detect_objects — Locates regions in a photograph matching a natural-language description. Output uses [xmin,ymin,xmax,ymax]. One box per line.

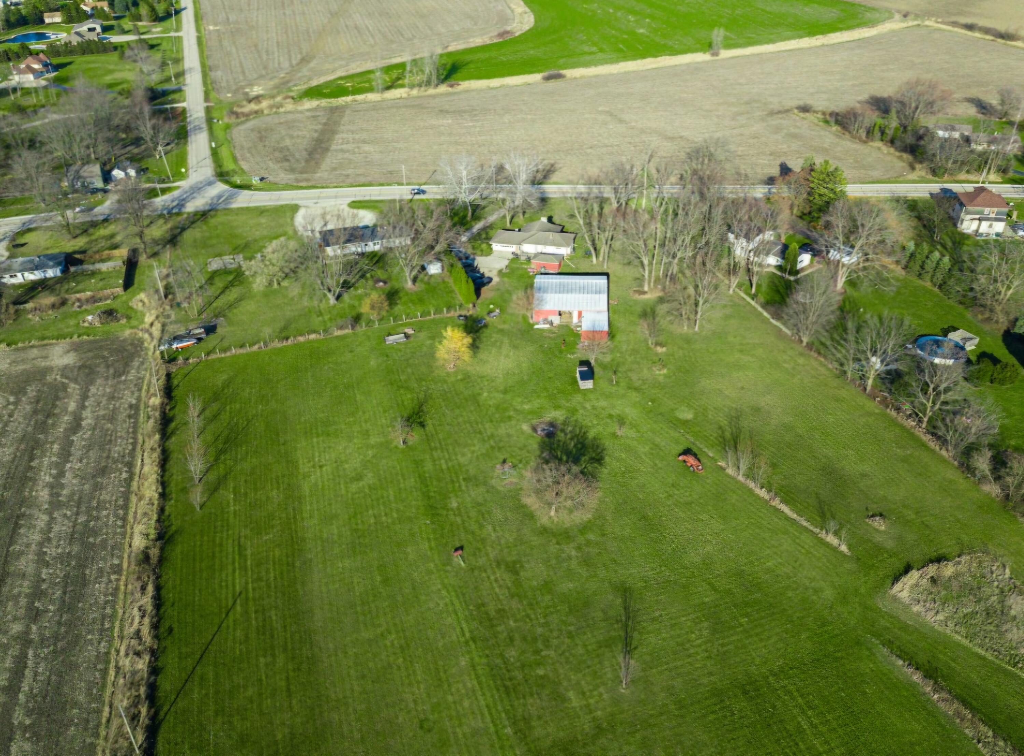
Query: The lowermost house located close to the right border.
[955,188,1018,241]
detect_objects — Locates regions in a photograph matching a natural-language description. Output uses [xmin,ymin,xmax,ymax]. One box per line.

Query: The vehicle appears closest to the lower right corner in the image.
[675,452,708,473]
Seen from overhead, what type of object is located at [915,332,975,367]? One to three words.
swimming pool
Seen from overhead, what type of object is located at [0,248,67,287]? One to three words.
house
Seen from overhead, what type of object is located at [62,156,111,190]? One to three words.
shed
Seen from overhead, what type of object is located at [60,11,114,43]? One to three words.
house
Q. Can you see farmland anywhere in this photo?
Yes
